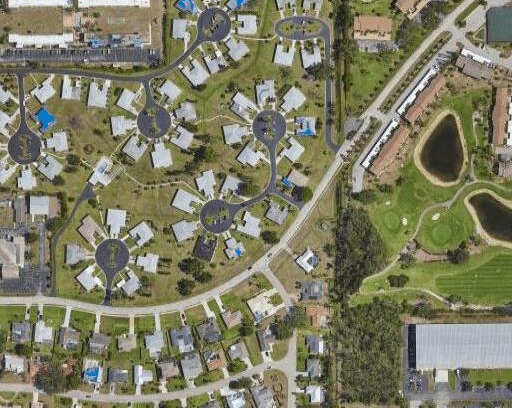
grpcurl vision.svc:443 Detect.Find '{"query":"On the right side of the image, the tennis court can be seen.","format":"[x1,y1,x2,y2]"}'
[488,6,512,42]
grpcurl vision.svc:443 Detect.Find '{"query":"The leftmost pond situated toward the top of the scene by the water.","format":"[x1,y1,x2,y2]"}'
[422,113,465,181]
